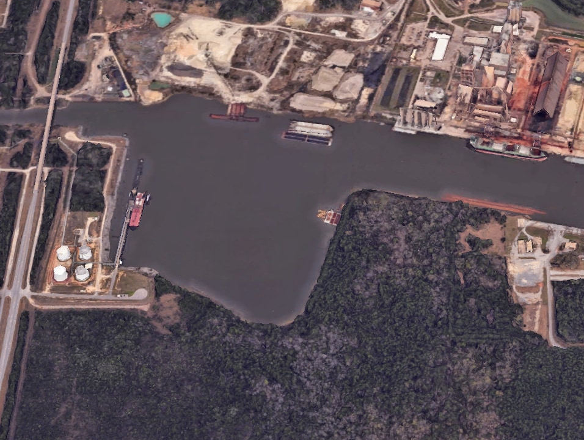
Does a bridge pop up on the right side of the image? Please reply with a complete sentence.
No, there's no bridge to be seen on the right side of the image.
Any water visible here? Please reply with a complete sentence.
Yes, some water is visible.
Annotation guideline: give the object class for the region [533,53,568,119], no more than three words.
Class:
building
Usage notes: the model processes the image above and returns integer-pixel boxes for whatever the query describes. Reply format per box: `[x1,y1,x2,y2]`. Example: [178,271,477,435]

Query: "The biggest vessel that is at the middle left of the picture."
[129,193,147,228]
